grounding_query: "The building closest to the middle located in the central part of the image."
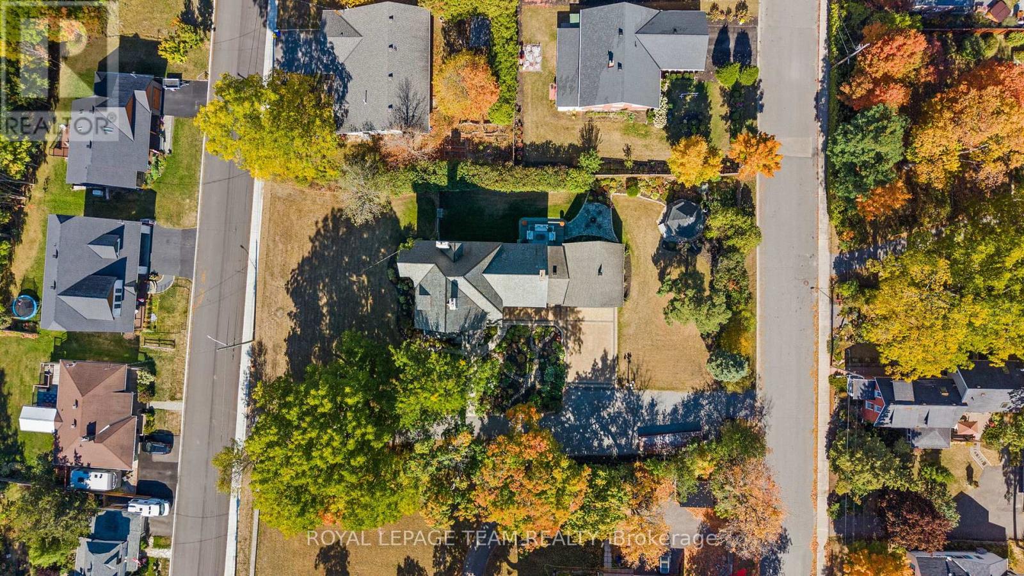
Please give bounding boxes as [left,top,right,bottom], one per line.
[397,240,624,342]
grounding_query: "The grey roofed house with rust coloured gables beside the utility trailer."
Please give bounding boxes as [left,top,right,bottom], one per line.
[66,72,162,189]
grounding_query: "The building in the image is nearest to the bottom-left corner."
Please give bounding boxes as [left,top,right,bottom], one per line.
[75,507,147,576]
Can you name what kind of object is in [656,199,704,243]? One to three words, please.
gazebo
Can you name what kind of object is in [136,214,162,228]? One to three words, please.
car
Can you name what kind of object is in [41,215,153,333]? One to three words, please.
house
